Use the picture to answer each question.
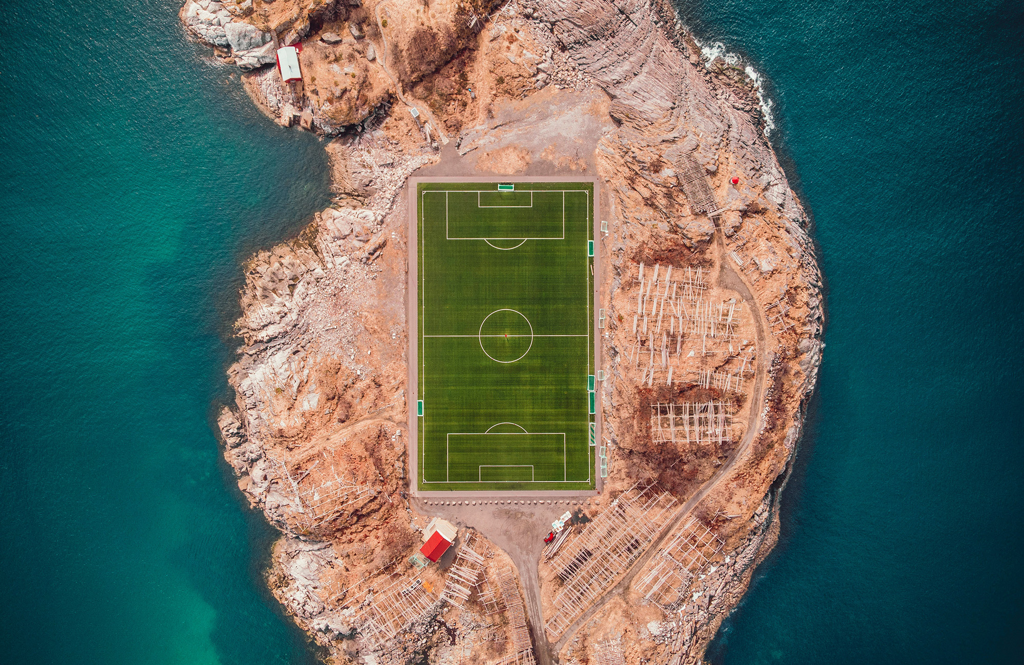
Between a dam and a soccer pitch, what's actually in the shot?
soccer pitch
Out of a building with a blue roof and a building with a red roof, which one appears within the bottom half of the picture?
building with a red roof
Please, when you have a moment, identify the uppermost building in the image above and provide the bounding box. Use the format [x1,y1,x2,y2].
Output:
[276,46,302,84]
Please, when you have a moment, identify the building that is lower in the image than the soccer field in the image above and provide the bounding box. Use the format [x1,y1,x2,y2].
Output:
[420,530,451,563]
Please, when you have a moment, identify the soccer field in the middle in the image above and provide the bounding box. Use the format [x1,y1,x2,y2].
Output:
[418,182,595,491]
